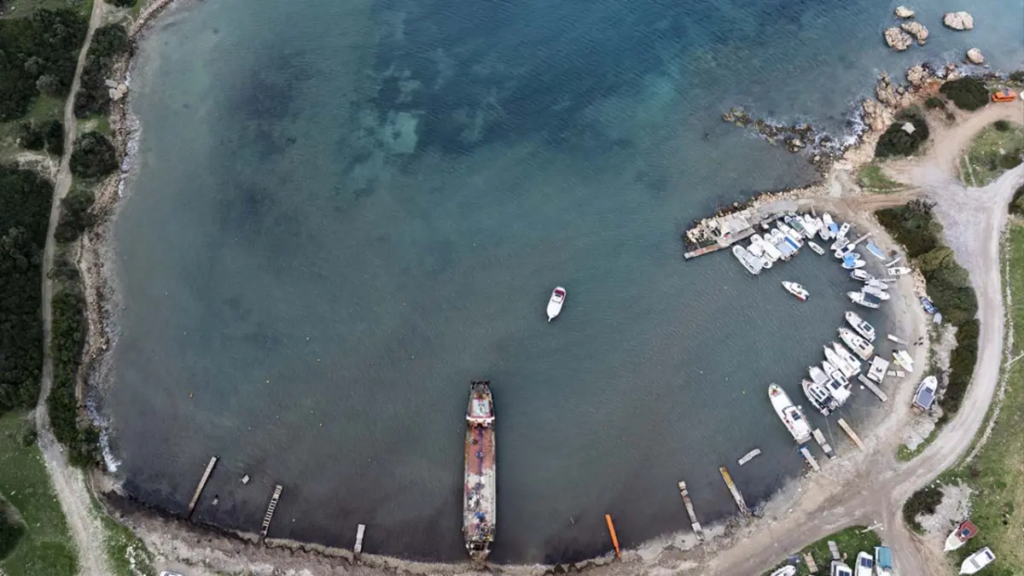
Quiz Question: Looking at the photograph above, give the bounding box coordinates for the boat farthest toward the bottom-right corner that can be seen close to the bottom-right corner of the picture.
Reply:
[958,548,997,576]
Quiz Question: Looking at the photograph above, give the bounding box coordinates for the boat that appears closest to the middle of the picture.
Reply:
[547,285,566,321]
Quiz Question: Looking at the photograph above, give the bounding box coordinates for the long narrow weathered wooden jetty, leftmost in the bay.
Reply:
[187,456,219,515]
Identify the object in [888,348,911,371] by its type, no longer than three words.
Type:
boat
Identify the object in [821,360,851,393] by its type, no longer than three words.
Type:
boat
